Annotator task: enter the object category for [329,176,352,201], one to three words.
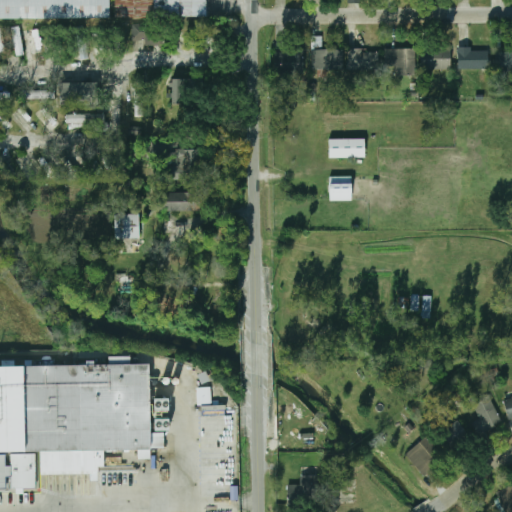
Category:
barn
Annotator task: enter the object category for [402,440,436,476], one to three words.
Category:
house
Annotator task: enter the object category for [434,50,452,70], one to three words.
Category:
house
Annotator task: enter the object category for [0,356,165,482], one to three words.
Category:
building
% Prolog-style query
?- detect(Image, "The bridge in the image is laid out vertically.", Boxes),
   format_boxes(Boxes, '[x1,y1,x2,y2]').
[241,321,274,398]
